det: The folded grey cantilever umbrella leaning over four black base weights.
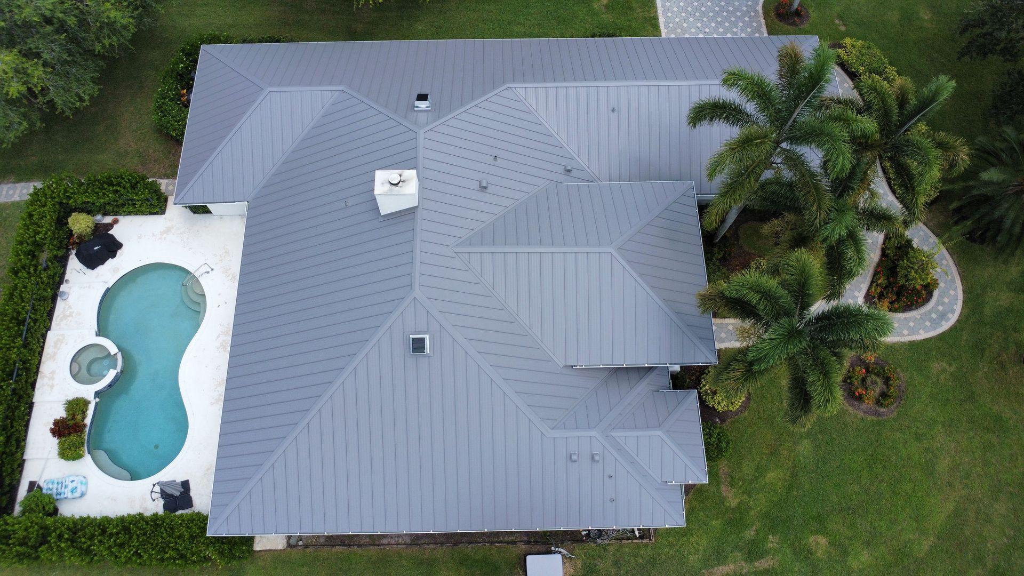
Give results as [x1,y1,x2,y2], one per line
[150,479,194,513]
